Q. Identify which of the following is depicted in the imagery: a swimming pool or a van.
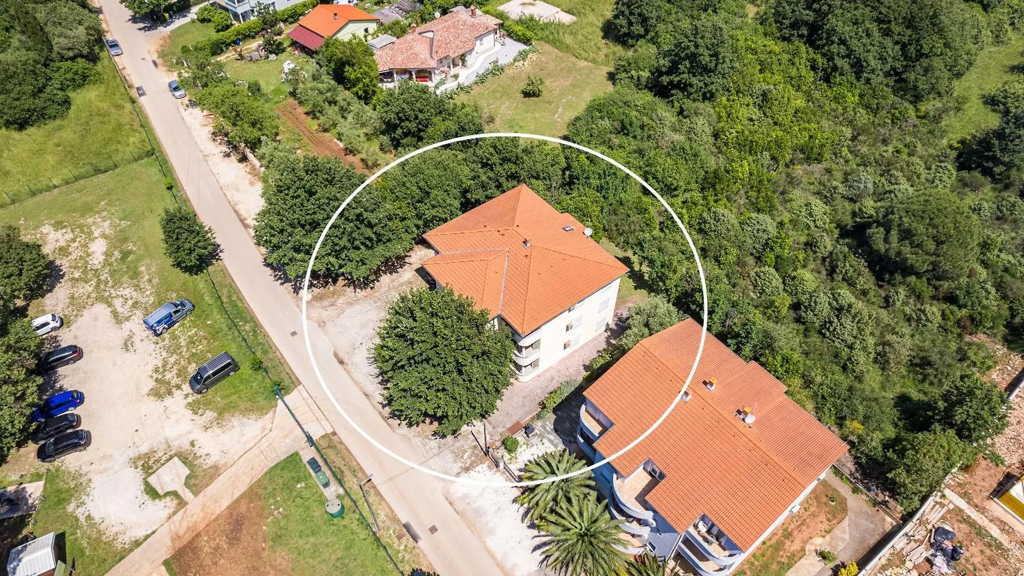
van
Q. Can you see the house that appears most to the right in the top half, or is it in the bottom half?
bottom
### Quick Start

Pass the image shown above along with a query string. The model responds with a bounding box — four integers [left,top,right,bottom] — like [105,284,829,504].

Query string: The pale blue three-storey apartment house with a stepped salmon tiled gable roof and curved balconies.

[573,316,850,576]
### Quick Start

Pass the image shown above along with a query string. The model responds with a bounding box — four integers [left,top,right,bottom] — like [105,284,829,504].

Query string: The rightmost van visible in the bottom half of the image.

[188,348,240,395]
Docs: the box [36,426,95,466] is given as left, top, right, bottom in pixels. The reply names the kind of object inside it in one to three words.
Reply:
car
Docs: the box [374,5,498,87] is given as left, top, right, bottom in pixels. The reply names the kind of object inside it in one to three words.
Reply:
house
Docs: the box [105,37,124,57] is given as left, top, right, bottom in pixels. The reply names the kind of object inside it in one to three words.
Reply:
car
